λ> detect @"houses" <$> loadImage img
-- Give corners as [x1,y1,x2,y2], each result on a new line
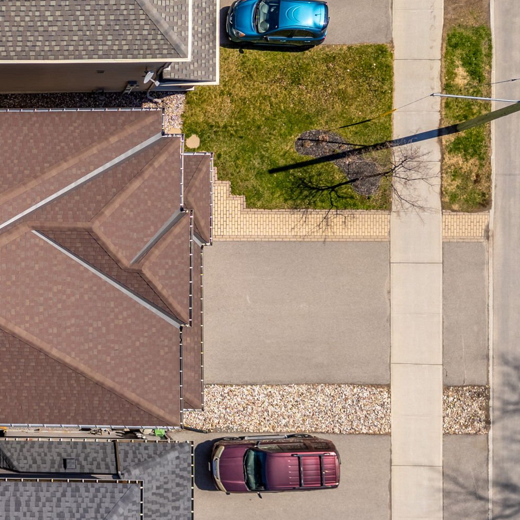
[0,0,220,108]
[0,433,194,520]
[0,107,213,426]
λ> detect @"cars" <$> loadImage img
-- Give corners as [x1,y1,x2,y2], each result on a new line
[225,0,332,52]
[211,434,340,499]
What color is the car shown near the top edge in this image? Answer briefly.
blue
